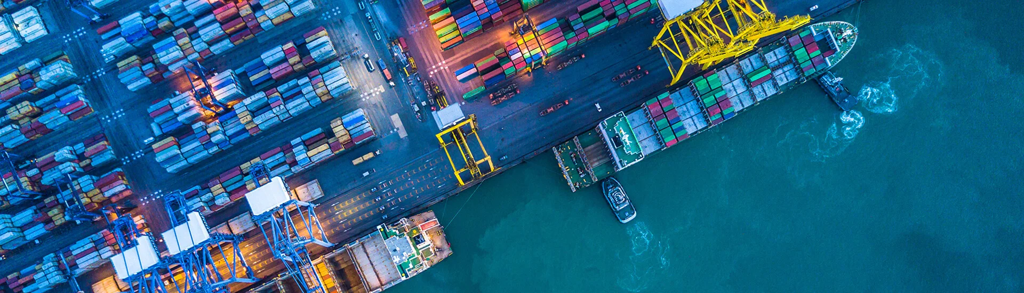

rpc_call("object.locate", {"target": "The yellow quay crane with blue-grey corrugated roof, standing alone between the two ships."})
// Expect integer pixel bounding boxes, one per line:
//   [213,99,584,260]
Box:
[430,85,499,186]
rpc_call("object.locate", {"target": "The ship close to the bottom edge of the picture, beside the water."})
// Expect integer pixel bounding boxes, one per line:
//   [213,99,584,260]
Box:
[244,211,453,293]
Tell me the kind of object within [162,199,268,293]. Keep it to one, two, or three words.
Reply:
container crane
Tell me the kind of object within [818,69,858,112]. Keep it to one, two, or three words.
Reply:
boat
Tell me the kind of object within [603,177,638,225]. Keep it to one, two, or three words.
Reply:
boat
